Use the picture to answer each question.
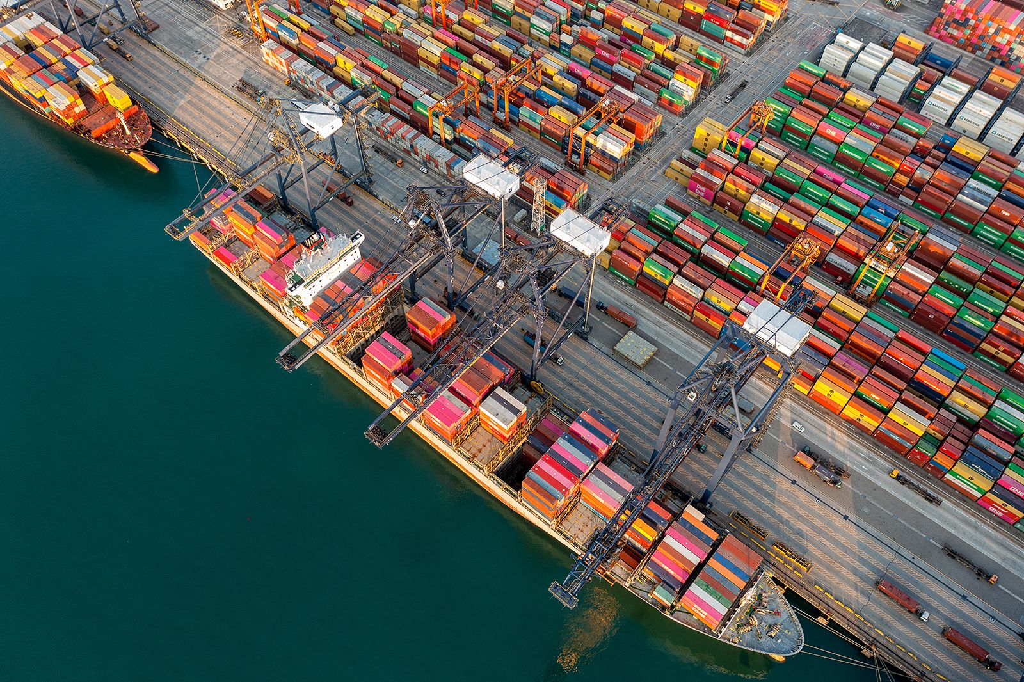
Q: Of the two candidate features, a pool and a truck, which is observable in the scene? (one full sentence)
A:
This aerial view contains a truck.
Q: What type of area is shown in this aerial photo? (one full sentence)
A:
The area seen from above is a port.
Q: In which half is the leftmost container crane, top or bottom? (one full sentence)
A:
The top half of the photo is where the leftmost container crane is.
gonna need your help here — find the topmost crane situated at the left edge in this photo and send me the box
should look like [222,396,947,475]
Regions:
[39,0,138,54]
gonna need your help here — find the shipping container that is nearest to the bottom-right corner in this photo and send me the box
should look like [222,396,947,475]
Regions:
[952,629,997,664]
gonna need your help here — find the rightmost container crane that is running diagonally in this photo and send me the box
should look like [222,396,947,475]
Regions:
[849,219,923,304]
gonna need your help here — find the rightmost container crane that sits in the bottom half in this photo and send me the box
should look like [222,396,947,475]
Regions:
[538,286,819,620]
